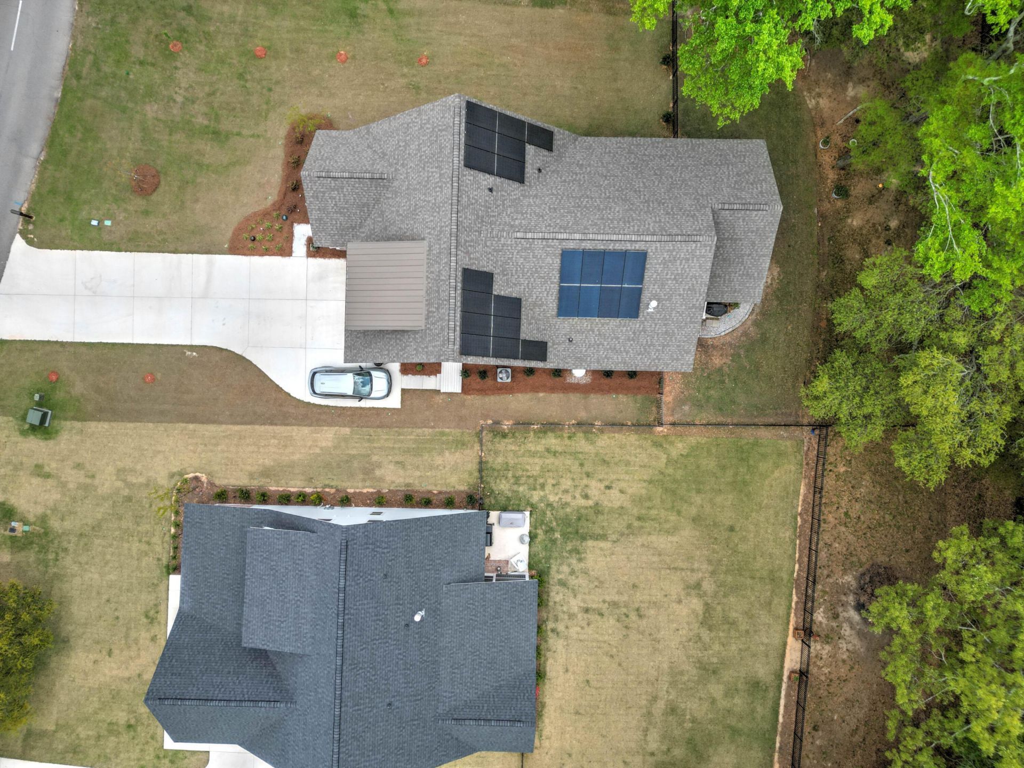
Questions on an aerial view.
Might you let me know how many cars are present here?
one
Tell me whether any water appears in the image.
No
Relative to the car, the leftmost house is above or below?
below it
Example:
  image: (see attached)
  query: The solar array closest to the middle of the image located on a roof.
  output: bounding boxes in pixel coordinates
[463,268,550,361]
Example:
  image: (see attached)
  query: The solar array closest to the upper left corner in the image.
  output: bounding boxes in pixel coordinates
[467,101,556,184]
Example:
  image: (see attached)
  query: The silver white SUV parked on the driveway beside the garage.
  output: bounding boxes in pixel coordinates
[308,363,394,403]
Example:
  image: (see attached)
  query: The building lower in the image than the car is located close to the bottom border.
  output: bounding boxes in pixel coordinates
[143,502,539,768]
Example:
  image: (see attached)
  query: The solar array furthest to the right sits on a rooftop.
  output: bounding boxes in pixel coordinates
[558,251,647,322]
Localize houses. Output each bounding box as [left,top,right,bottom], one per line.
[301,93,784,371]
[143,502,539,768]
